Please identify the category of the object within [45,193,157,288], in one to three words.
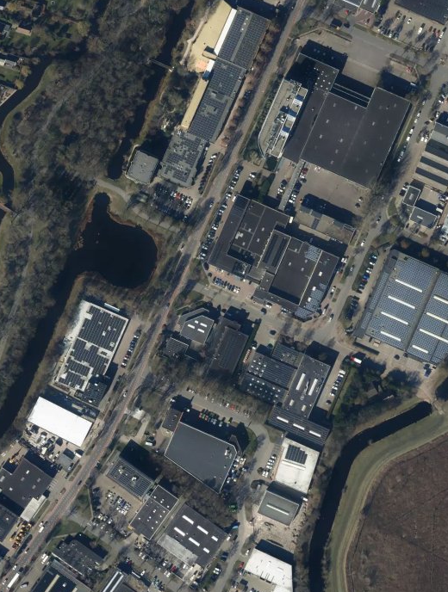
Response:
pond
